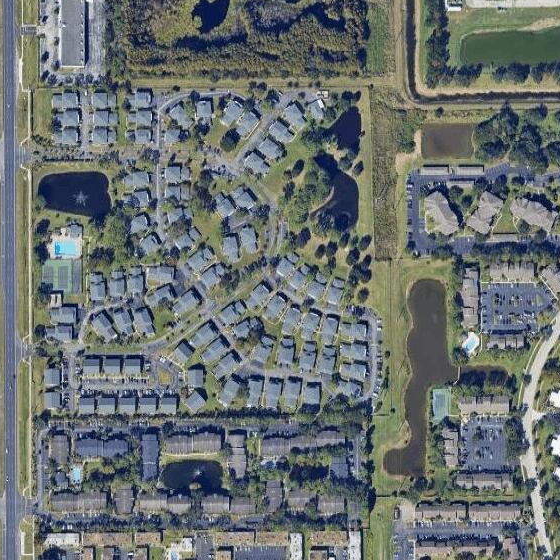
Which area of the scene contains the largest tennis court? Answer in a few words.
left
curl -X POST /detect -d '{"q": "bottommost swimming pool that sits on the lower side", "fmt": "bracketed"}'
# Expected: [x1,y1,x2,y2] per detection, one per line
[165,544,193,560]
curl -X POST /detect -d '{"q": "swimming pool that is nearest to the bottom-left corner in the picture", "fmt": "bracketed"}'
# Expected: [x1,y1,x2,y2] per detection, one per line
[68,462,83,485]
